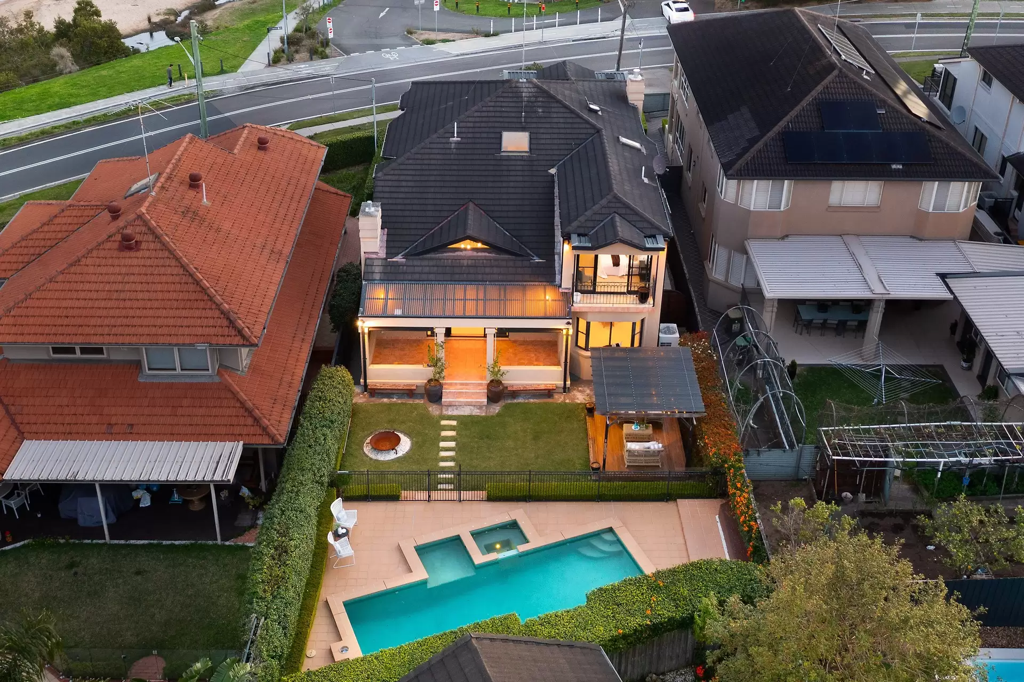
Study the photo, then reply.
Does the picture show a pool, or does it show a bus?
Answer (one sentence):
Of the two, only a pool appears.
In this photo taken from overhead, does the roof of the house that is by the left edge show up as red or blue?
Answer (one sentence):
The roof of the house that is by the left edge looks red in the image.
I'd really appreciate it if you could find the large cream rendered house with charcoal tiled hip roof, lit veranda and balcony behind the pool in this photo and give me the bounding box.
[357,57,674,404]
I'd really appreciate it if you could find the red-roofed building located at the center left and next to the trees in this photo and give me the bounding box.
[0,123,353,542]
